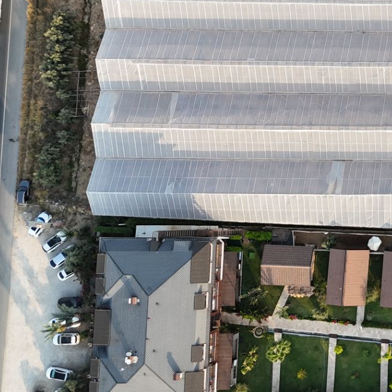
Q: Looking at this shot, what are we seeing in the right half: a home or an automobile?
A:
home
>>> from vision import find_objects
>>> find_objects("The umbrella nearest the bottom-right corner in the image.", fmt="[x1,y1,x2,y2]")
[367,237,381,250]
